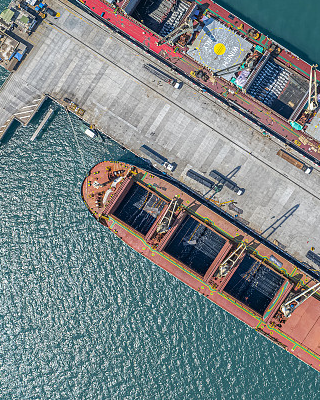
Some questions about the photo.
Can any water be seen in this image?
Yes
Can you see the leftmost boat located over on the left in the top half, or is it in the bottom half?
top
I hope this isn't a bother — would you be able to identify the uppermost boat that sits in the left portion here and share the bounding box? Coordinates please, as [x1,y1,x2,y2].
[80,123,105,145]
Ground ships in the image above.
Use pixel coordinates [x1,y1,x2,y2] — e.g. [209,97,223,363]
[76,0,320,163]
[81,161,320,373]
